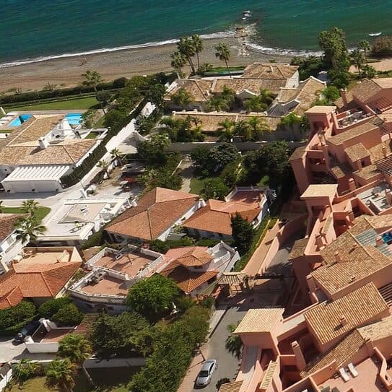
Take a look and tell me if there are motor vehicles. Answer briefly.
Yes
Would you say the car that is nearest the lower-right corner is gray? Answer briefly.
Yes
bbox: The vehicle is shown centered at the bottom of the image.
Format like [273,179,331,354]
[191,361,218,388]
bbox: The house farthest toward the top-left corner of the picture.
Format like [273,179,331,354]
[0,115,113,203]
